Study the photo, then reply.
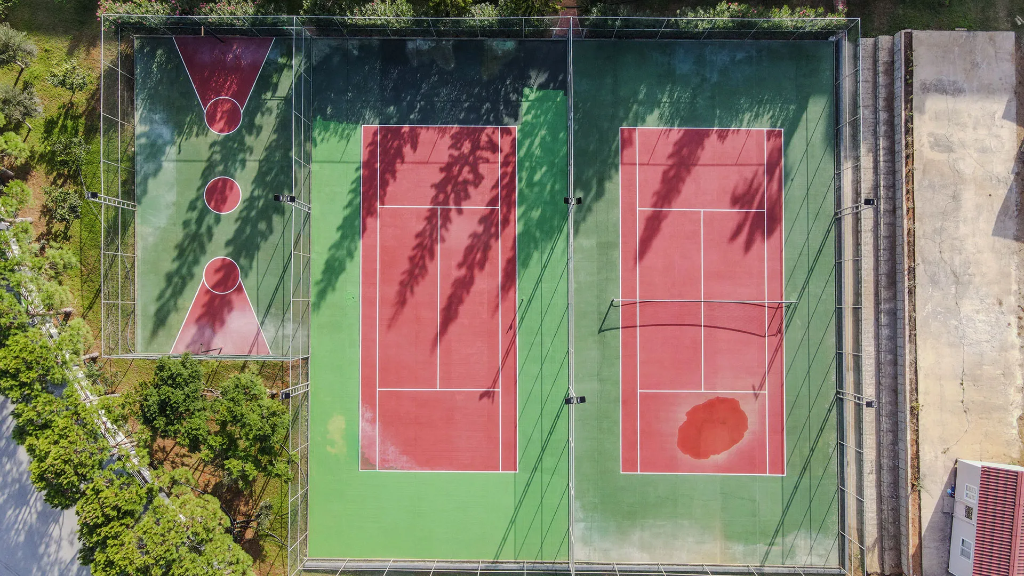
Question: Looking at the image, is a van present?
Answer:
No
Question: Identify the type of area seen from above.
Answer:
sports ground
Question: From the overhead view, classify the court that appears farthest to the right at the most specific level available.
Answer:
tennis court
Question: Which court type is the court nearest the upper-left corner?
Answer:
basketball court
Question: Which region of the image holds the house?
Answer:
bottom right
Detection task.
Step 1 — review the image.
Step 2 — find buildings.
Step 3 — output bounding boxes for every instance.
[949,460,1024,576]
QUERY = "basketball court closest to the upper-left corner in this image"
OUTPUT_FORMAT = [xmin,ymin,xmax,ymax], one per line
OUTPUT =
[136,37,310,355]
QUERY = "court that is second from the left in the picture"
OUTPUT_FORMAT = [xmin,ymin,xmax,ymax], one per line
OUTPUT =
[309,38,569,560]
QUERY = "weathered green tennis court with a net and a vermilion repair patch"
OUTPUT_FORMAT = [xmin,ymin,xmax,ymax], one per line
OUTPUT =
[569,39,840,566]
